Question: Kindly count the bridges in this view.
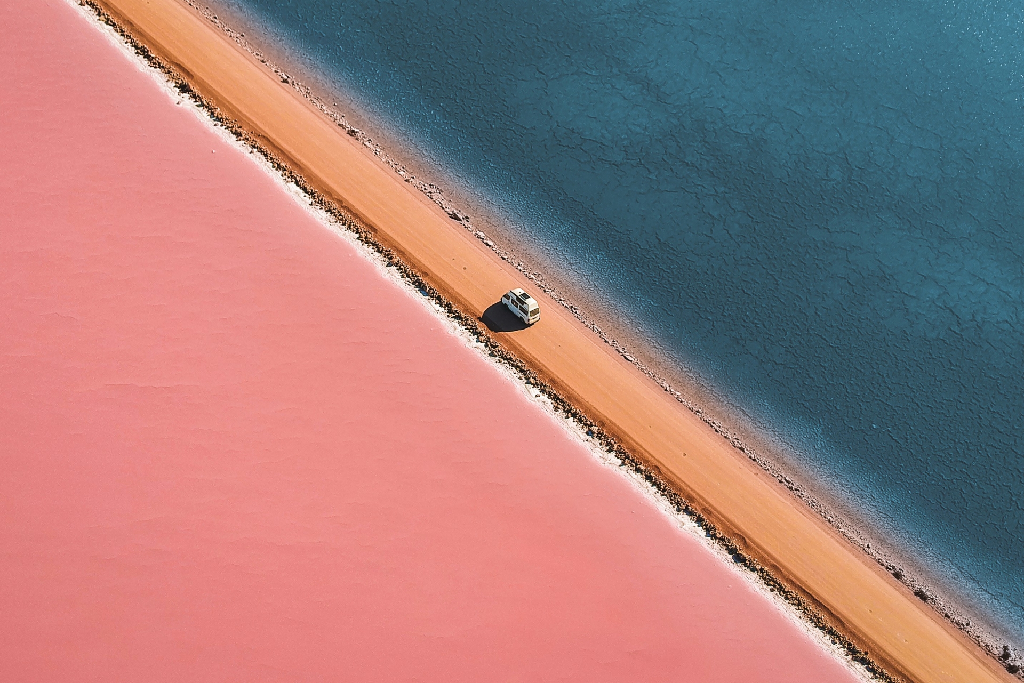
0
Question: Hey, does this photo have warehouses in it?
No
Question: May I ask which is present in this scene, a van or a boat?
van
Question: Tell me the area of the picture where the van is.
center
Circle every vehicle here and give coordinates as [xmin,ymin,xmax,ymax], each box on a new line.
[499,286,542,325]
